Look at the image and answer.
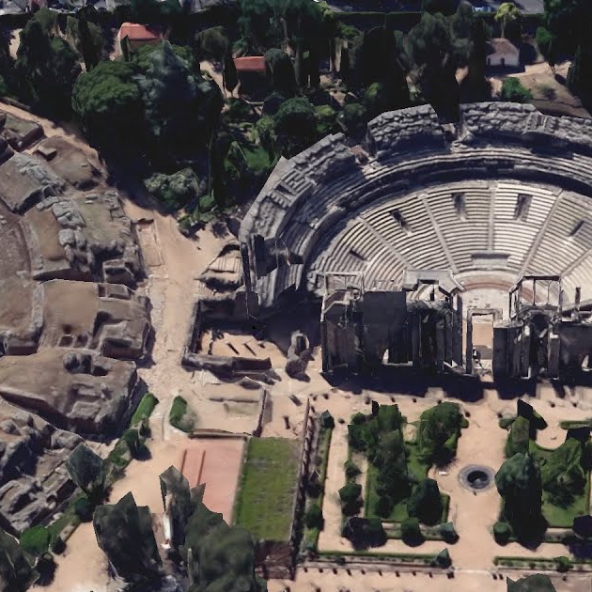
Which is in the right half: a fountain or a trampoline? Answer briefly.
fountain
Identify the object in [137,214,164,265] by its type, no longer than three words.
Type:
shed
